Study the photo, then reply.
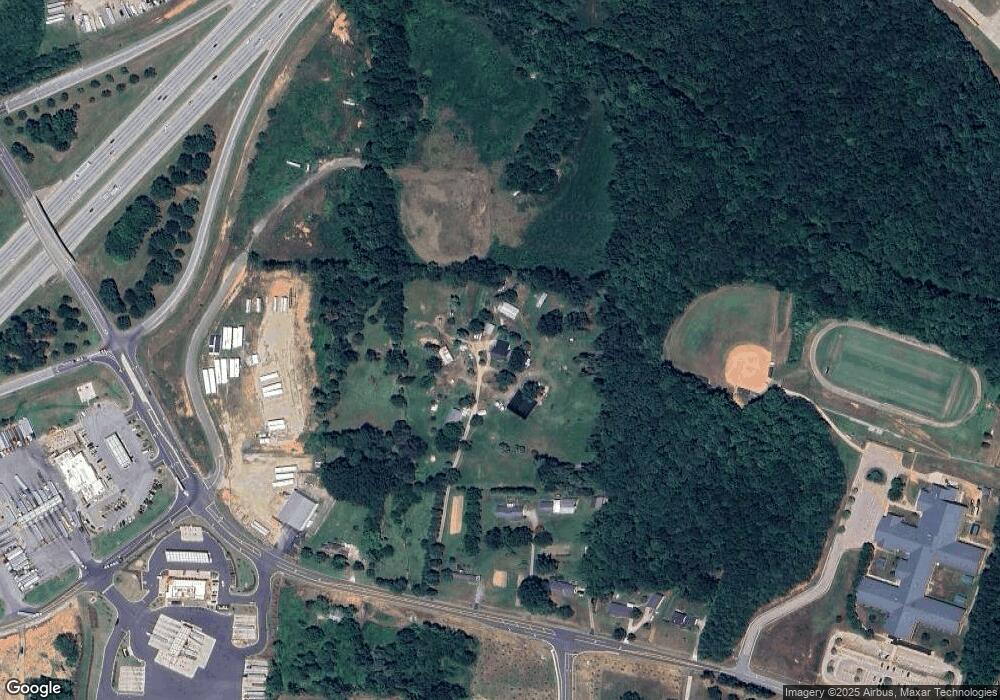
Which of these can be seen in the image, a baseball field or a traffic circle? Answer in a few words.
baseball field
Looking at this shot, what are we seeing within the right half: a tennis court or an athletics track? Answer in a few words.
athletics track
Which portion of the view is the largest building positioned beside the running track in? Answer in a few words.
bottom right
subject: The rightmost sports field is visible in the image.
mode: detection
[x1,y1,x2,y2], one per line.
[813,326,976,422]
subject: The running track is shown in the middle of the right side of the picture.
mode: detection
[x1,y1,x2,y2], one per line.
[809,322,980,426]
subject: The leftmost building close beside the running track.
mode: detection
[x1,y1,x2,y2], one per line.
[854,479,985,654]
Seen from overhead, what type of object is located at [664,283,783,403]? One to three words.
baseball field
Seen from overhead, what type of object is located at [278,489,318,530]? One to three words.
building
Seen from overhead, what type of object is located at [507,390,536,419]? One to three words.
house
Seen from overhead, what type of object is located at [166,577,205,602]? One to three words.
building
